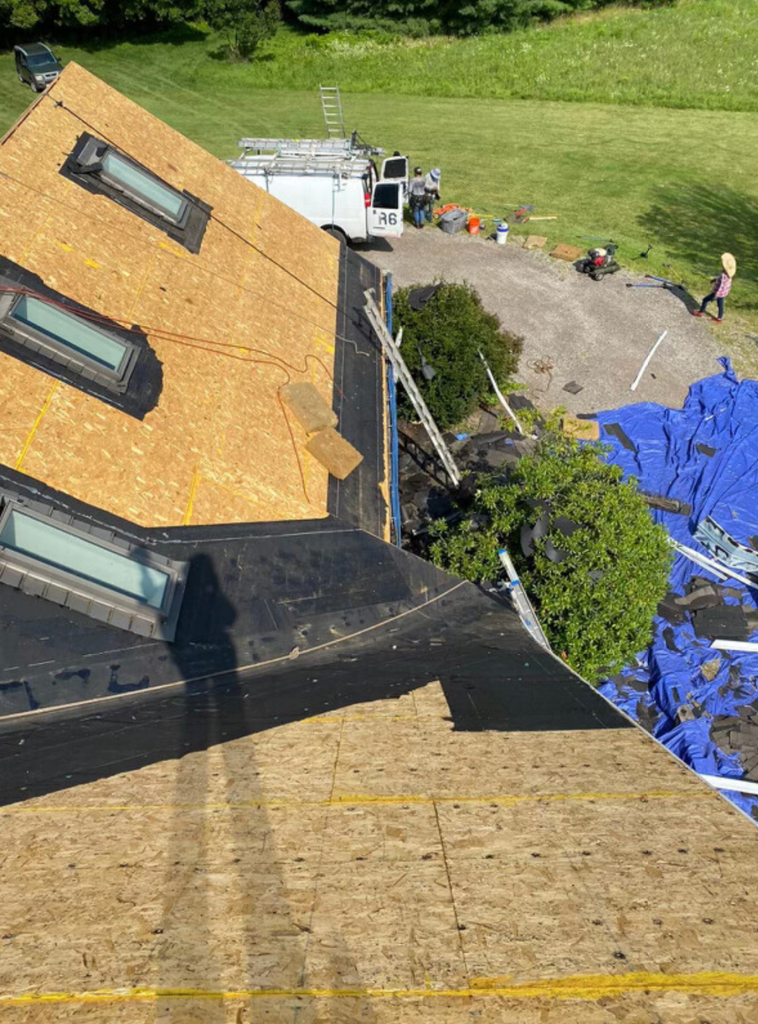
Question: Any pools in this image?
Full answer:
No, no pool is visible in the scene.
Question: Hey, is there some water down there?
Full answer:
No, there is no water in the image.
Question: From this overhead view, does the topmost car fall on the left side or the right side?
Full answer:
The topmost car appears in the left half of the scene.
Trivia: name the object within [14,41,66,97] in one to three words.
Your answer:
car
